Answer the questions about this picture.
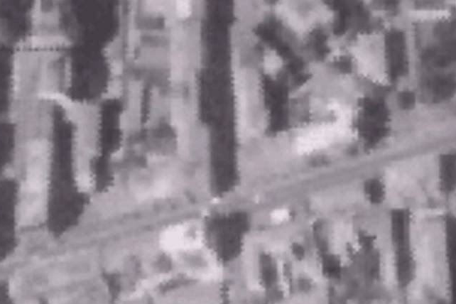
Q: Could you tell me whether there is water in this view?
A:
No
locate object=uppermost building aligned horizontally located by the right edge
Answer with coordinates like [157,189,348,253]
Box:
[405,7,454,24]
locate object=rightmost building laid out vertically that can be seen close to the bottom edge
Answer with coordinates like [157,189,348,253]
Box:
[406,212,447,304]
